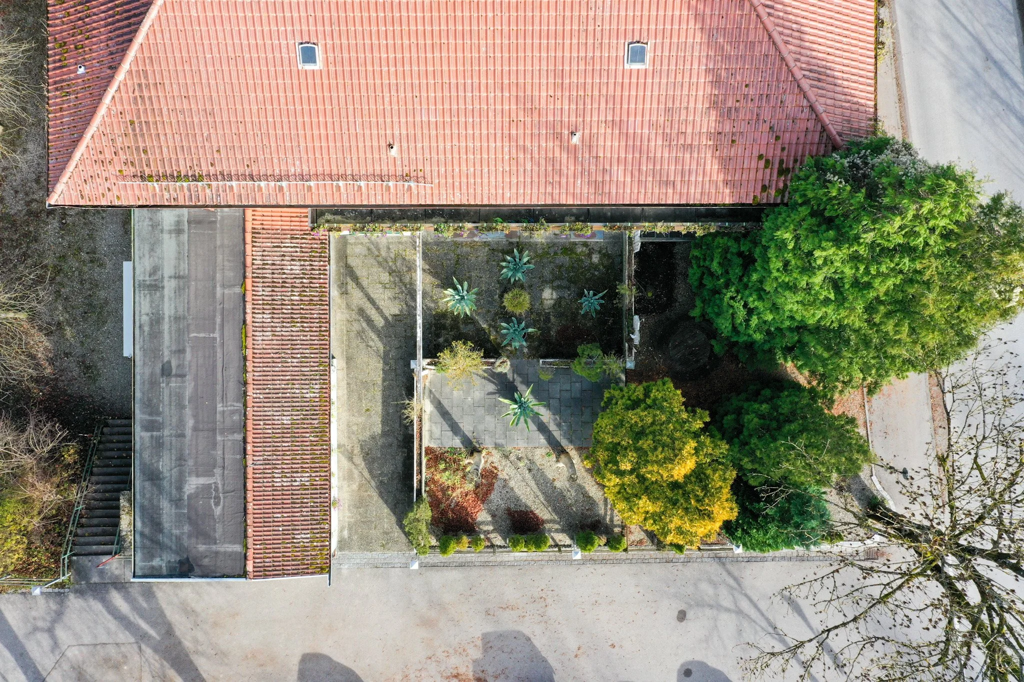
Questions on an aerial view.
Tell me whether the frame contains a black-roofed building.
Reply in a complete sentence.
No, there appears to be no black-roofed building in this shot.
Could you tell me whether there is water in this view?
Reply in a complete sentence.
No, no water is visible.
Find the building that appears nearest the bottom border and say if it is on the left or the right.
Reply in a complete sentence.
It is on the left.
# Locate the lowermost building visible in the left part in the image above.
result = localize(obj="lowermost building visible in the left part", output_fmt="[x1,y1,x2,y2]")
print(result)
[130,209,341,585]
